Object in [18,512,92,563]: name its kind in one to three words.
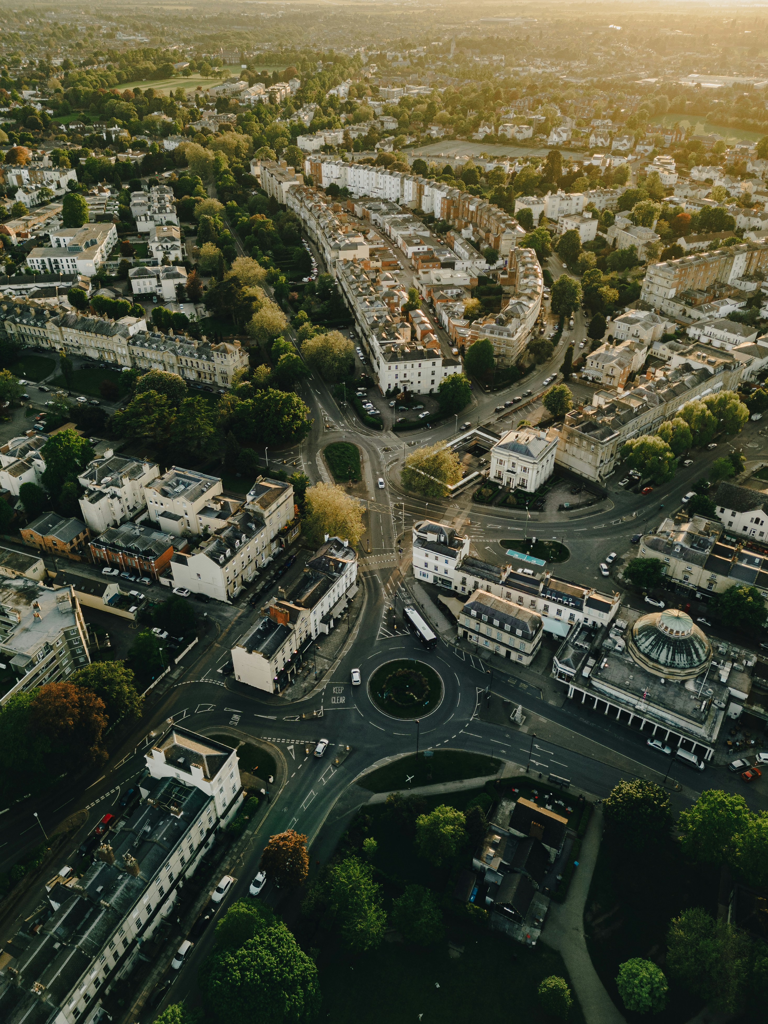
building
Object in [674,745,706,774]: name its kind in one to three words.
van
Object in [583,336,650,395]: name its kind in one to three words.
house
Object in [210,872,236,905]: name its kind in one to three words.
car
